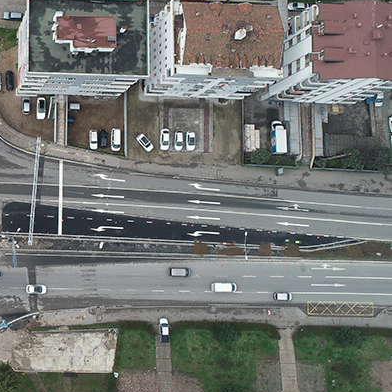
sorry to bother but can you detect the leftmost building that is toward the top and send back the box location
[14,0,151,100]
